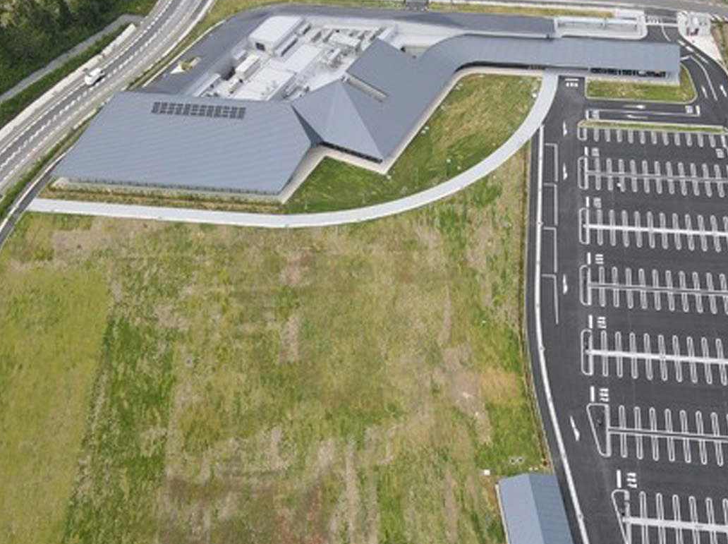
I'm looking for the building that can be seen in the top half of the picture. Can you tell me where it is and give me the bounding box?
[55,5,680,202]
